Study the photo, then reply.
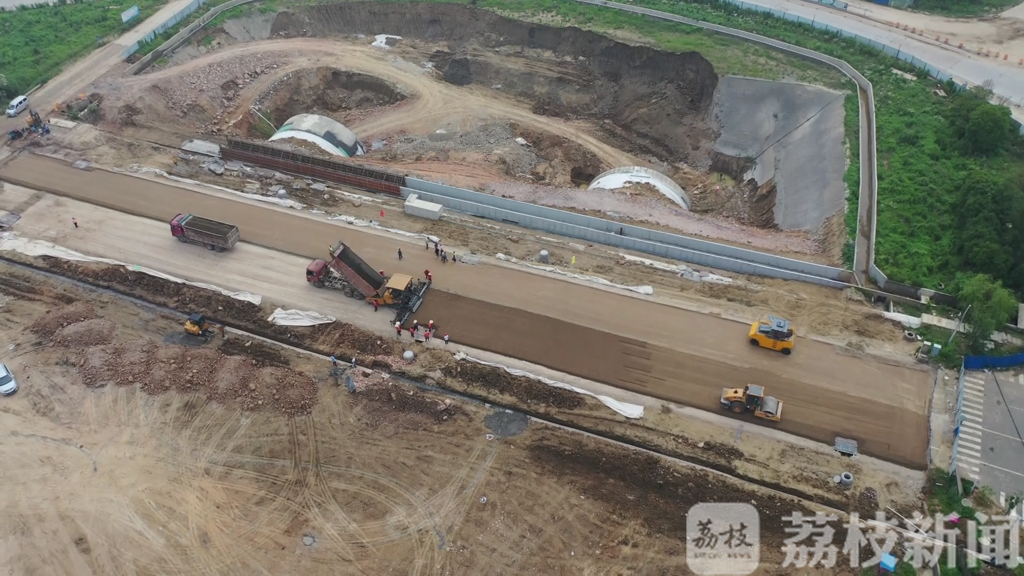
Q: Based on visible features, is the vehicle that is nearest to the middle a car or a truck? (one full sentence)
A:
Looking closely, the vehicle that is nearest to the middle is a truck.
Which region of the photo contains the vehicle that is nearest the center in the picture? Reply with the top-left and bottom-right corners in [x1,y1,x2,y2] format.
[301,242,385,302]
